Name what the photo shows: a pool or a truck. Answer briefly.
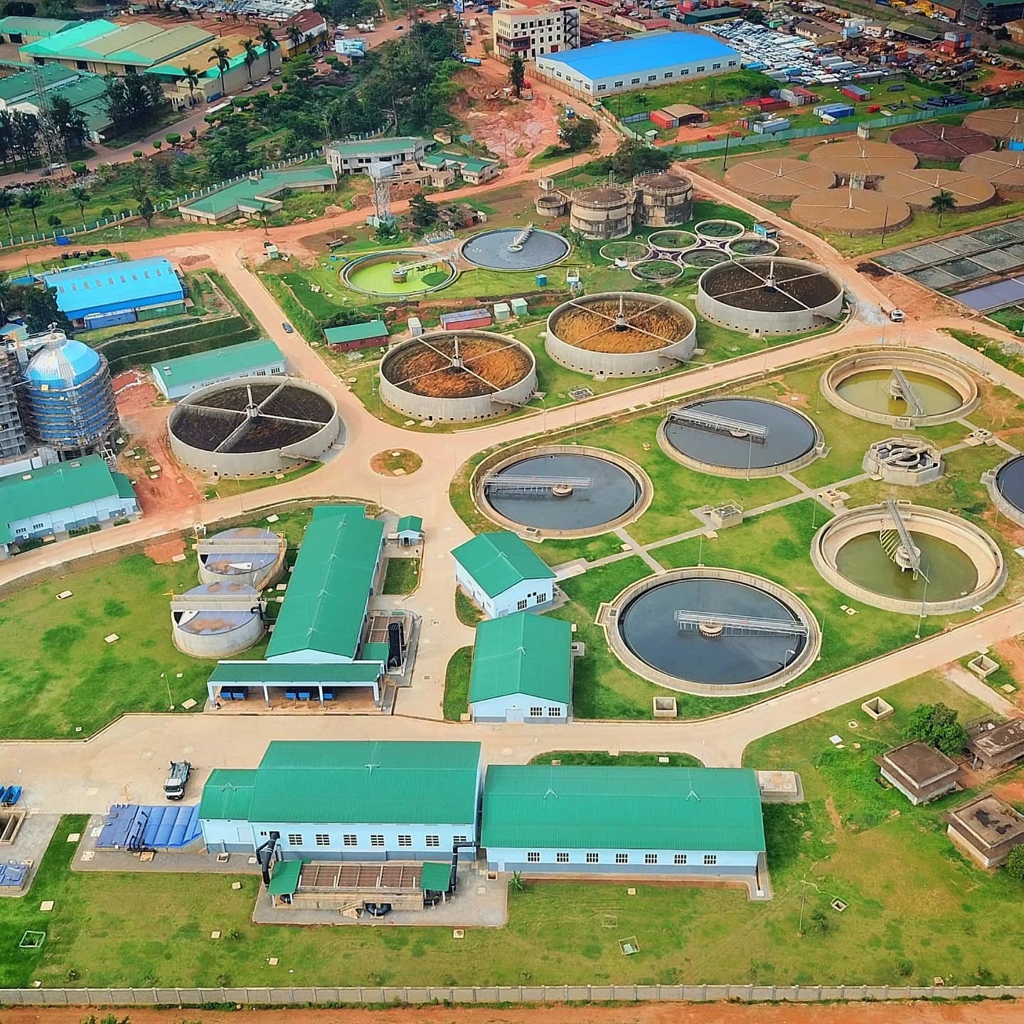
truck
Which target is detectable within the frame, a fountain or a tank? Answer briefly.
tank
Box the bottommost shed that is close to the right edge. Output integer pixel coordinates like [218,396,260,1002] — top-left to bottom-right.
[942,791,1024,872]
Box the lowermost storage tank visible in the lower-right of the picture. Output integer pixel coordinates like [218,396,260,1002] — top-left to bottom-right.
[755,769,797,801]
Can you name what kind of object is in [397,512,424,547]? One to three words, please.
shed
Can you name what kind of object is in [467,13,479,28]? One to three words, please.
vehicle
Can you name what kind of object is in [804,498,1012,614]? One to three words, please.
storage tank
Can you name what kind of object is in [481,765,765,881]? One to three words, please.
building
